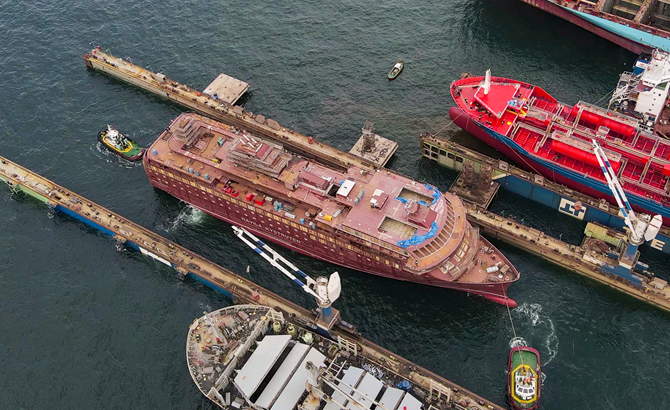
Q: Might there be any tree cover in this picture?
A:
No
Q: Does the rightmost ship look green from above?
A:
No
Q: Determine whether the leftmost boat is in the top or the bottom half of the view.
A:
top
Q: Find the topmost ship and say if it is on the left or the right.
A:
right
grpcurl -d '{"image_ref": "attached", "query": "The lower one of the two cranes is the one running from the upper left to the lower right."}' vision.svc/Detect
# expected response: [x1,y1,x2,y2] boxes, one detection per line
[228,232,344,343]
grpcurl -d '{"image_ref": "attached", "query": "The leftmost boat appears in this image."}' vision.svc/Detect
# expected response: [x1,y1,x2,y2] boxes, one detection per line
[97,122,150,162]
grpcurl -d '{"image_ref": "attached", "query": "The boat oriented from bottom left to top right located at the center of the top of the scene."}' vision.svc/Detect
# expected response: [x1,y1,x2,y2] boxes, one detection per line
[387,64,403,81]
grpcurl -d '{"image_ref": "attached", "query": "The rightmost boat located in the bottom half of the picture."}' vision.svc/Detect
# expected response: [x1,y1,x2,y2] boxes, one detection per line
[506,341,542,410]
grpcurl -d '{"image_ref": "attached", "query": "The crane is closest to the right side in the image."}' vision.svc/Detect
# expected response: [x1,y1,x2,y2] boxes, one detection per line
[594,133,660,279]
